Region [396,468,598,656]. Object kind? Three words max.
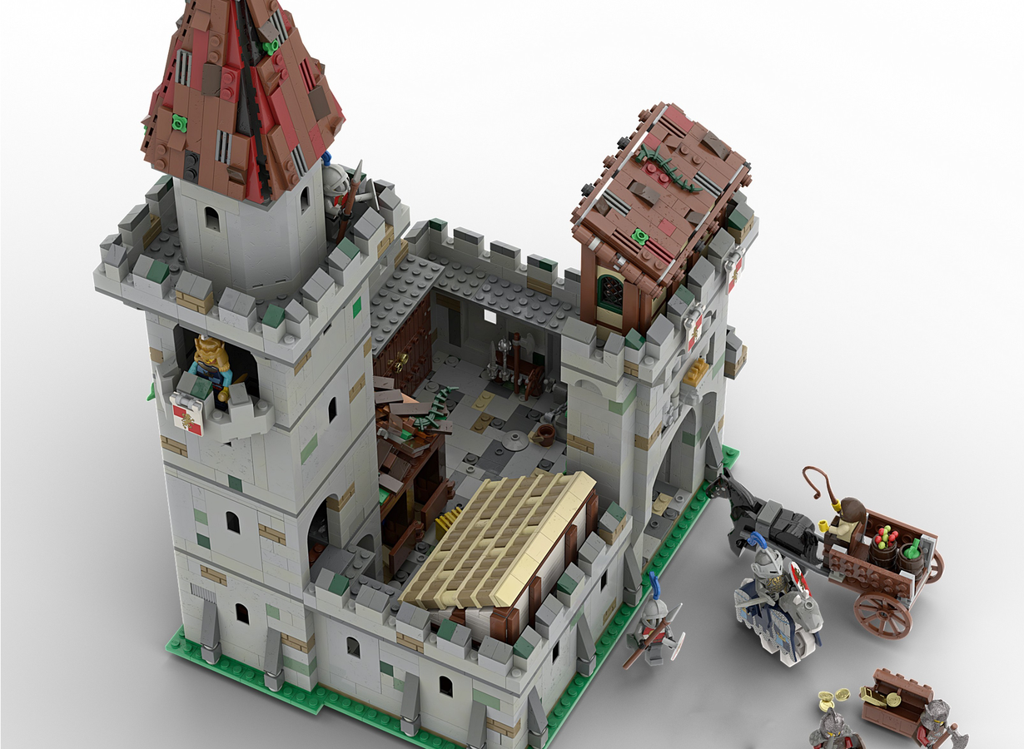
shed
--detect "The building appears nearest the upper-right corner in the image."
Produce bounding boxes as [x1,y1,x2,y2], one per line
[566,98,753,352]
